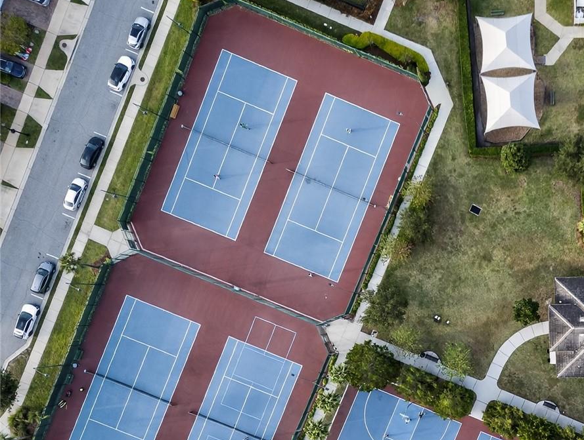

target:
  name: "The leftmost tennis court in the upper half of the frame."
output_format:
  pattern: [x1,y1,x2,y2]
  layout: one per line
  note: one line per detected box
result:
[131,4,328,286]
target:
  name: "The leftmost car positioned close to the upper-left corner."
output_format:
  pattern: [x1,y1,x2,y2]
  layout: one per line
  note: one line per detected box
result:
[0,57,30,80]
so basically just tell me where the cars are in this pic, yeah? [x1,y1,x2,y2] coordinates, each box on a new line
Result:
[0,57,30,80]
[13,304,41,338]
[79,136,106,170]
[108,56,135,92]
[125,16,152,50]
[64,177,90,211]
[30,261,57,295]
